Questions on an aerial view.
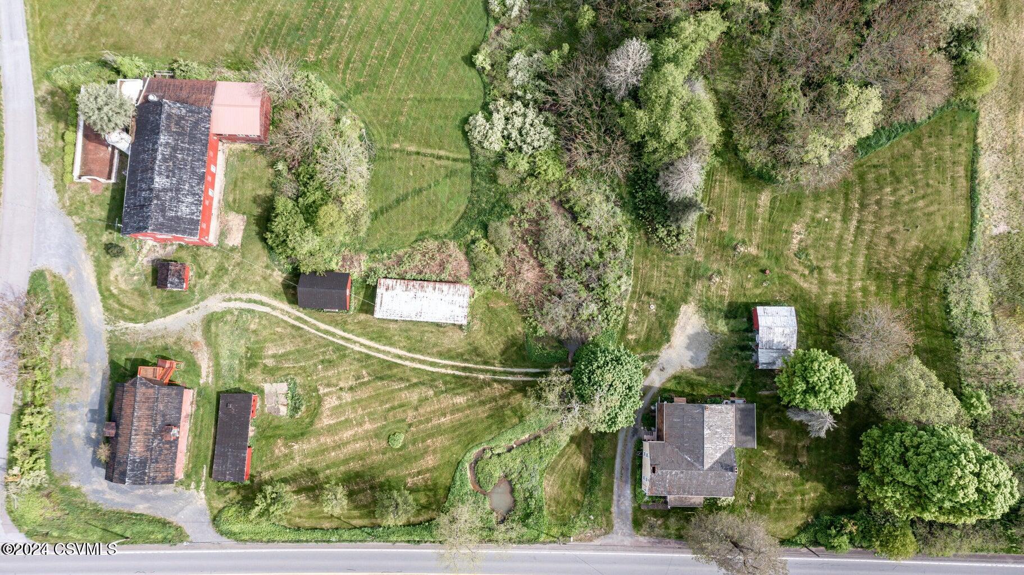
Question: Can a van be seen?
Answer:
No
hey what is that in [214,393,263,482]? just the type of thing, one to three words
shed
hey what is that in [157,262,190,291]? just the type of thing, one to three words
shed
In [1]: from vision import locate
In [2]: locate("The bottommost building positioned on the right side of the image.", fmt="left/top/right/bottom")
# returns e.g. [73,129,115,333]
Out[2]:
[642,396,756,508]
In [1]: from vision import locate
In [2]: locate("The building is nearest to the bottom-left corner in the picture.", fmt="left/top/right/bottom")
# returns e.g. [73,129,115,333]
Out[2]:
[102,360,190,485]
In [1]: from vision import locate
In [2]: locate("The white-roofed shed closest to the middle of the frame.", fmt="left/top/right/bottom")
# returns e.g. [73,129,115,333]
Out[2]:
[376,279,471,325]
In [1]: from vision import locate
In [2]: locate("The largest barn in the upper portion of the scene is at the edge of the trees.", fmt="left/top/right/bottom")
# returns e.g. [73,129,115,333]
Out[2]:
[122,77,273,245]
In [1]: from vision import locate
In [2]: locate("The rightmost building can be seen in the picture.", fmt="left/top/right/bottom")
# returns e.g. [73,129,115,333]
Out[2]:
[748,306,797,369]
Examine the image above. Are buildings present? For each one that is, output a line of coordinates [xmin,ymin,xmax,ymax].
[214,393,263,482]
[298,271,353,312]
[157,262,190,291]
[642,396,756,508]
[122,77,273,245]
[376,279,471,325]
[748,306,797,369]
[102,360,190,485]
